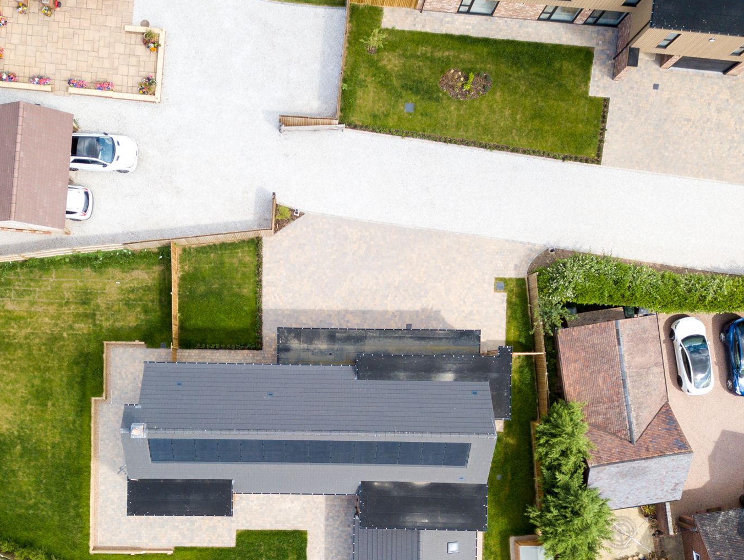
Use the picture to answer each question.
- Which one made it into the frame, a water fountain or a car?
car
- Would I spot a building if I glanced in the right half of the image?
Yes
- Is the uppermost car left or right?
left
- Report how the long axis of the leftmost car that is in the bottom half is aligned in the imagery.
vertically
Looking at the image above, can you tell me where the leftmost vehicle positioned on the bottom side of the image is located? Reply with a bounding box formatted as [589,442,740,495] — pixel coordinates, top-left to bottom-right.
[670,316,712,397]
